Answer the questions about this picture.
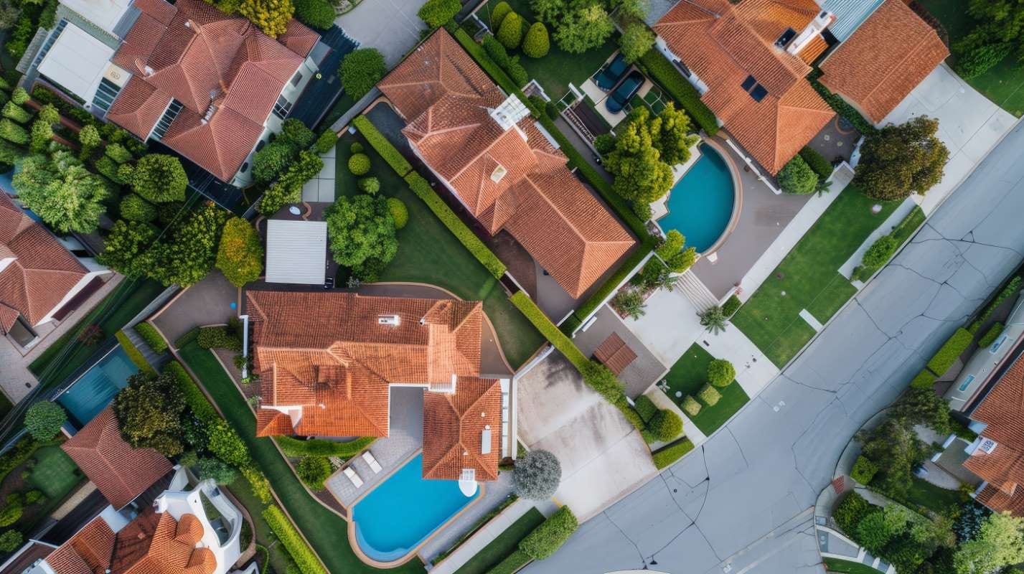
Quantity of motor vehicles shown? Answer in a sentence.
In total, 2 motor vehicles can be seen.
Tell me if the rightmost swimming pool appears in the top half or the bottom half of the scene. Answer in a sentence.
The top half of the photo is where the rightmost swimming pool is.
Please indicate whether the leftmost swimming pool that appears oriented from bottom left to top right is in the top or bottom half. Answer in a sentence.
The leftmost swimming pool that appears oriented from bottom left to top right is in the bottom half of the image.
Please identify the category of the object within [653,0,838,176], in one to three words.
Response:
house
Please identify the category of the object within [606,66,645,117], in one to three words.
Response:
car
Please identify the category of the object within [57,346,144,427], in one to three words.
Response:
swimming pool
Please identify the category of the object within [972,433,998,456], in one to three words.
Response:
solar panel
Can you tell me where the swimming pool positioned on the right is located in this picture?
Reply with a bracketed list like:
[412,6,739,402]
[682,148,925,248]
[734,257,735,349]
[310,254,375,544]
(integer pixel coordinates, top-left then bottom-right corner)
[655,134,744,263]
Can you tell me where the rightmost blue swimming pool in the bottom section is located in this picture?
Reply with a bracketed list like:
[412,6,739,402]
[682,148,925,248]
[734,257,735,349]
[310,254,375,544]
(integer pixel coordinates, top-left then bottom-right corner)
[347,448,485,566]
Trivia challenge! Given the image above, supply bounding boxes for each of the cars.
[595,44,633,92]
[606,66,645,117]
